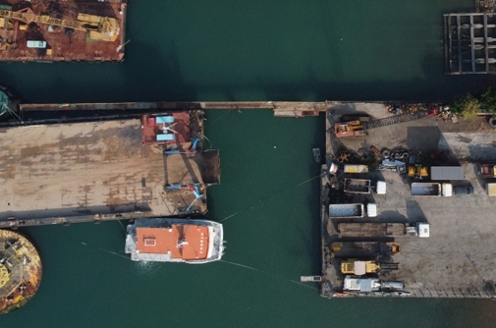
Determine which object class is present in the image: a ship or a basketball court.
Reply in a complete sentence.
This aerial view contains a ship.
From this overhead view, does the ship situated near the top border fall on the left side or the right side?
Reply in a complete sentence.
The ship situated near the top border sits on the left side.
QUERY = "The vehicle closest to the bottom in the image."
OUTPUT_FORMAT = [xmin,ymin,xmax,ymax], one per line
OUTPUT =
[344,276,405,294]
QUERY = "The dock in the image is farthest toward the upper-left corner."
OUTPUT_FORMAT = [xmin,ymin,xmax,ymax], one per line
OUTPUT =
[12,101,326,116]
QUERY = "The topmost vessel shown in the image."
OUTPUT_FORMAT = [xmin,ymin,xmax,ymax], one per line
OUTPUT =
[0,0,129,65]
